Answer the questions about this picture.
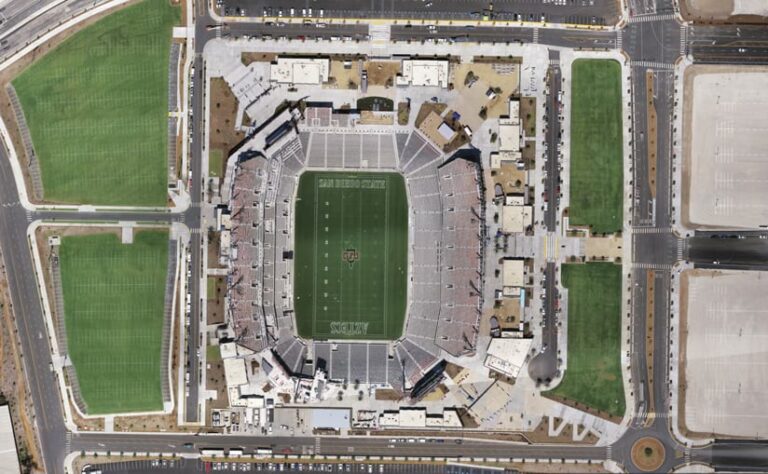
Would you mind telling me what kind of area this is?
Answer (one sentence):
This image shows a sports ground.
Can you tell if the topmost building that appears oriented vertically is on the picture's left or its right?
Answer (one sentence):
The topmost building that appears oriented vertically is on the right side of the image.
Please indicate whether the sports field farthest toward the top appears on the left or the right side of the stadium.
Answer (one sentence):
It is on the left side of the stadium that the sports field farthest toward the top is positioned.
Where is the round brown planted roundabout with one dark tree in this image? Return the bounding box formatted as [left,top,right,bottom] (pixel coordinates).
[630,437,665,472]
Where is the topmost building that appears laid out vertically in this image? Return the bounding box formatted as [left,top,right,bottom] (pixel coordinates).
[490,101,520,168]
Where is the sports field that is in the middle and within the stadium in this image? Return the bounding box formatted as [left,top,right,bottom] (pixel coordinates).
[290,166,415,344]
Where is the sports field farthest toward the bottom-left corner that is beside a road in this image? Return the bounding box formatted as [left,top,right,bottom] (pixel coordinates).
[60,229,169,415]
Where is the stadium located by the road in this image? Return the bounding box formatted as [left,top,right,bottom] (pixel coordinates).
[226,107,487,388]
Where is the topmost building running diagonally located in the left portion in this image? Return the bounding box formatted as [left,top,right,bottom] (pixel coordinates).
[230,109,300,164]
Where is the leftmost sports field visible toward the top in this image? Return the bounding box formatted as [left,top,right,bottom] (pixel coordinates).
[14,0,182,206]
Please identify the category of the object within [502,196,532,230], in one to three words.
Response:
building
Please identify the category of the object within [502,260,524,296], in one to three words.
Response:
building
